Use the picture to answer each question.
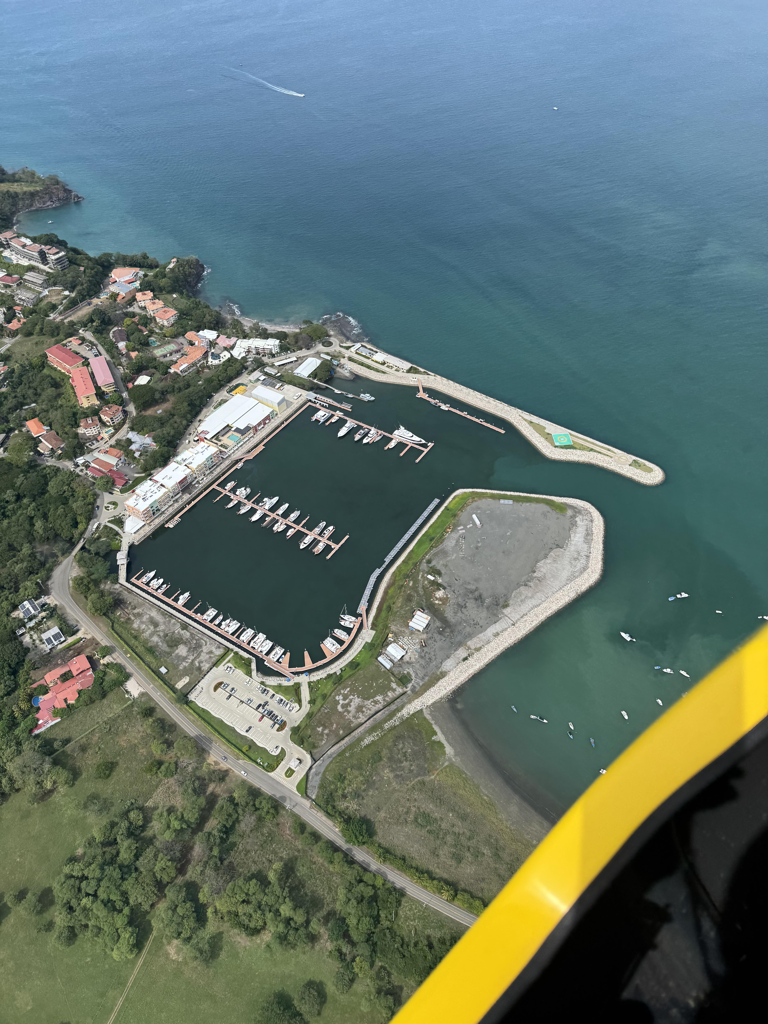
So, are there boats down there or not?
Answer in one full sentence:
Yes, there is a boat in the image.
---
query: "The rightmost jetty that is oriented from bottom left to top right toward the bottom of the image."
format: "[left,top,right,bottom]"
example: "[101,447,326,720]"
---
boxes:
[287,617,363,673]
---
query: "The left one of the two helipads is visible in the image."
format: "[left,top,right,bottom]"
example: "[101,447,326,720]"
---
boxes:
[552,433,573,446]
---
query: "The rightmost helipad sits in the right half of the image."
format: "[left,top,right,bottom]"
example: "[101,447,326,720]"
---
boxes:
[613,453,633,466]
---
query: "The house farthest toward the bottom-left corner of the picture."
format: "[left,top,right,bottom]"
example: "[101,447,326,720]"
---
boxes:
[28,654,95,739]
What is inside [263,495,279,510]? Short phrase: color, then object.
white boat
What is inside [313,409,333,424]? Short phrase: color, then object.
white boat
